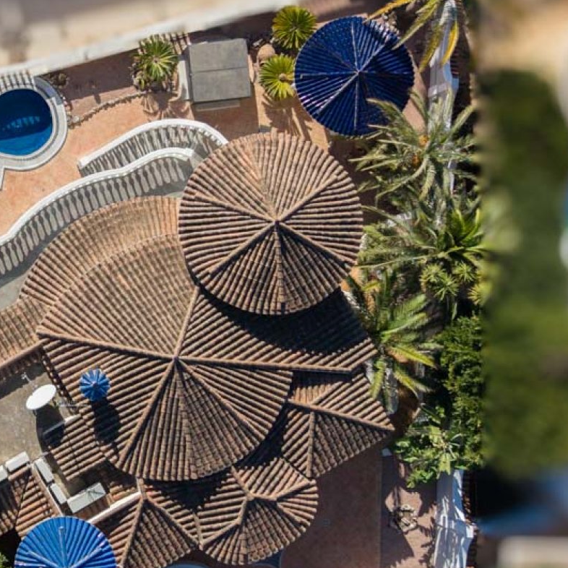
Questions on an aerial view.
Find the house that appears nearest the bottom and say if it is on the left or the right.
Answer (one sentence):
It is on the left.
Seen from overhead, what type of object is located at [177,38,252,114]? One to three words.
shed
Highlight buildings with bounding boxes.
[177,38,252,114]
[0,130,397,568]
